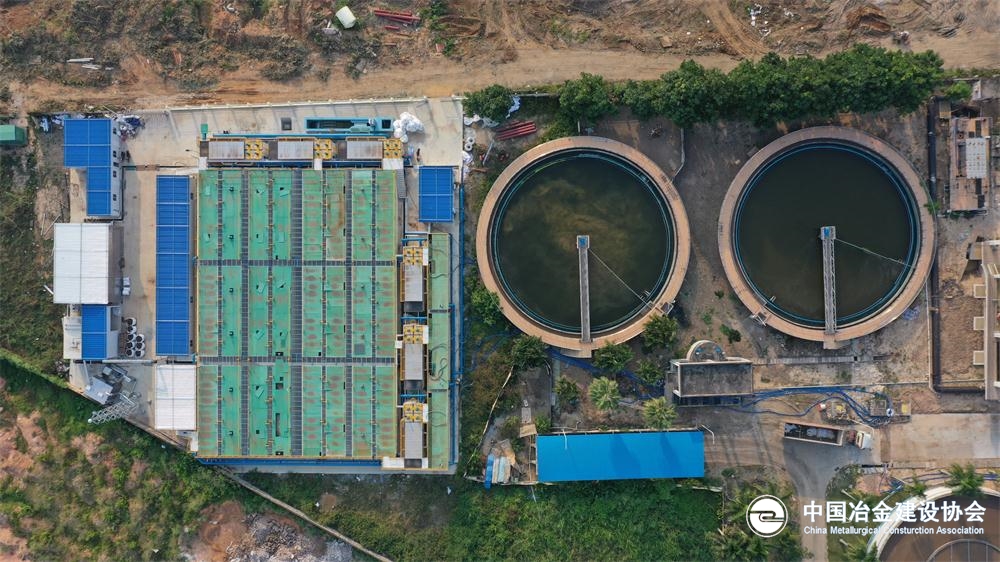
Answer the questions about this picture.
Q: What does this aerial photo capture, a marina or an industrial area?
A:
industrial area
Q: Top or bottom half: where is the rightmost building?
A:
bottom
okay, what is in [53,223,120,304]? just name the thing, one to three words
building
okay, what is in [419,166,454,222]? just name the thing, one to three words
shed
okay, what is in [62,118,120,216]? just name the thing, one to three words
building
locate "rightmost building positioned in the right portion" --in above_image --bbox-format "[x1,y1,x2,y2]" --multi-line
[672,362,753,397]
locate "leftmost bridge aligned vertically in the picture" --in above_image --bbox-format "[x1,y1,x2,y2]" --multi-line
[579,242,593,341]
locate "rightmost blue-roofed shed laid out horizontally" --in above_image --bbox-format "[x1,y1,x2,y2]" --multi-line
[536,424,704,483]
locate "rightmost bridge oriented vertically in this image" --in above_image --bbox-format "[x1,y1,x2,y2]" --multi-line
[823,235,841,337]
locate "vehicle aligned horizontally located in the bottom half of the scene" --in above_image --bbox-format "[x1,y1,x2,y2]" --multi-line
[787,422,875,454]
